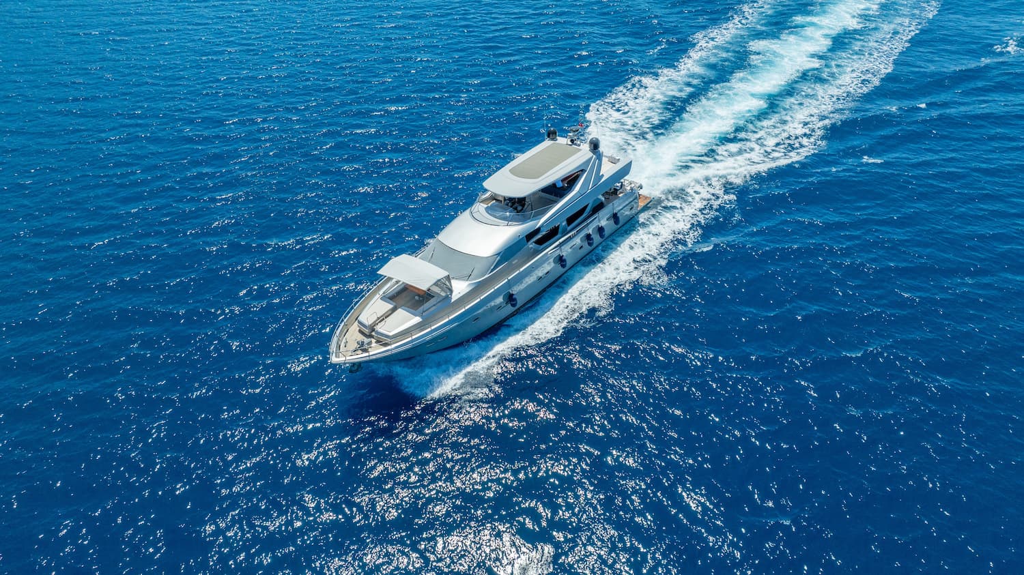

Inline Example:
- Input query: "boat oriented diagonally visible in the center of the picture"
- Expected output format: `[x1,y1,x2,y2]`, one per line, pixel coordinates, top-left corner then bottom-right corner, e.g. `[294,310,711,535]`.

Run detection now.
[328,119,650,378]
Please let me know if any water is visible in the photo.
Yes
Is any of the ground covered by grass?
No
